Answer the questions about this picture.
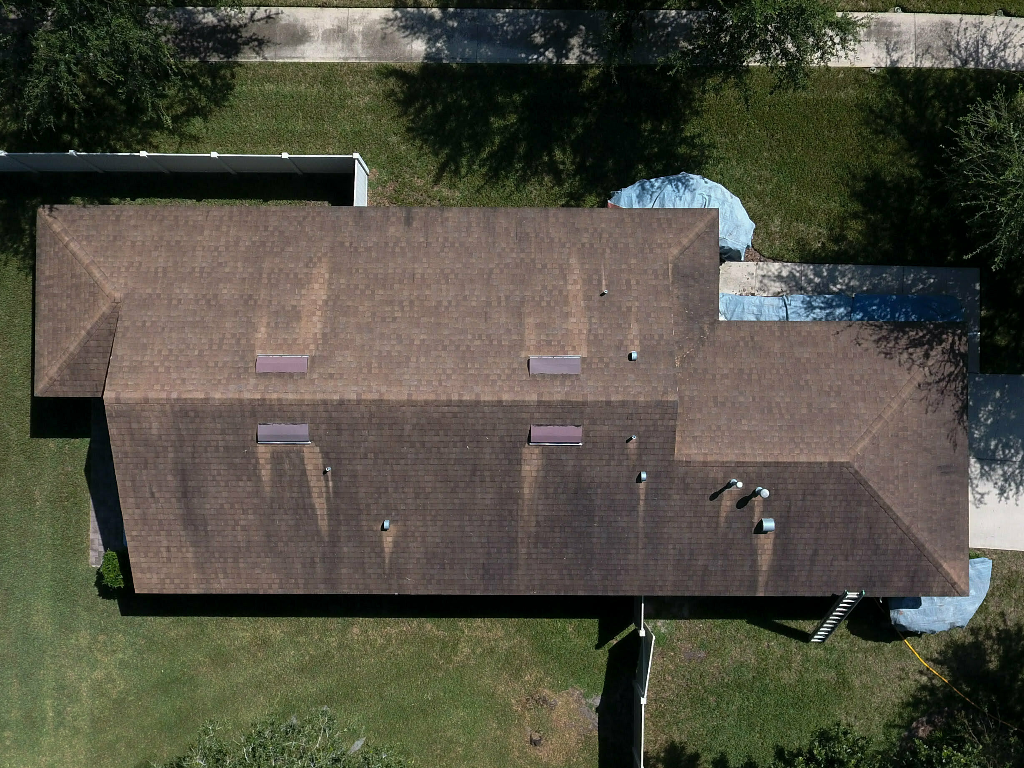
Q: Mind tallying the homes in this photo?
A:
1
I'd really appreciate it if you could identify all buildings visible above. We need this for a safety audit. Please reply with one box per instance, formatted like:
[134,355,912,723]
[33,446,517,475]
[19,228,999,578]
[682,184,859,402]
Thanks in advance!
[34,205,970,597]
